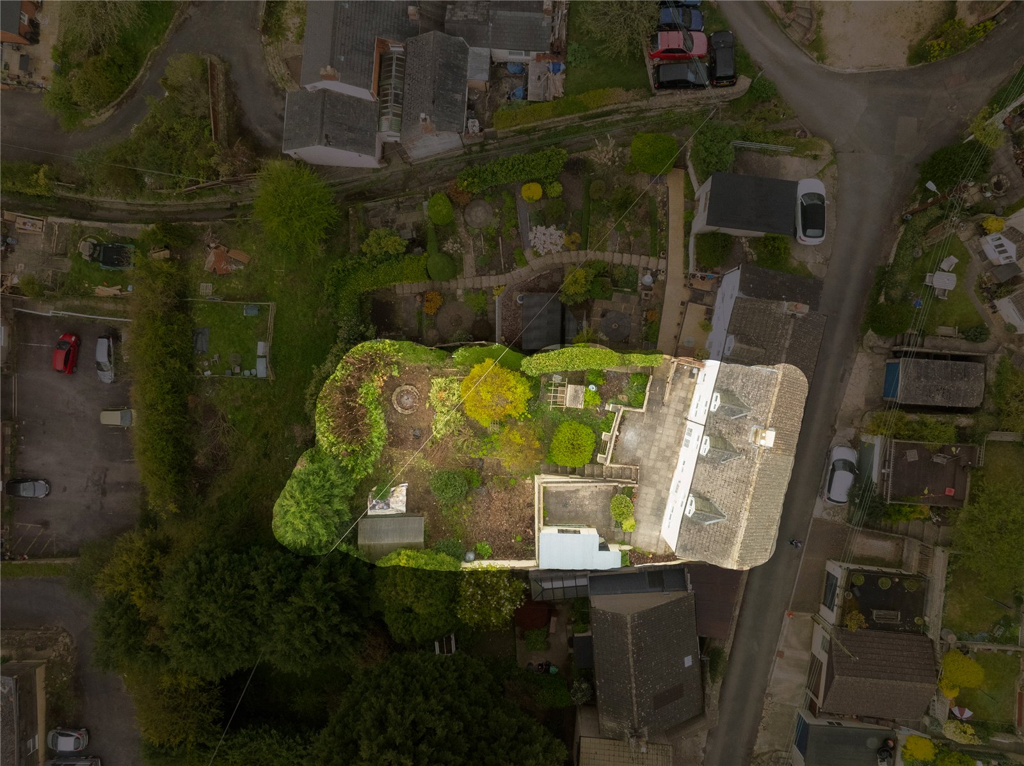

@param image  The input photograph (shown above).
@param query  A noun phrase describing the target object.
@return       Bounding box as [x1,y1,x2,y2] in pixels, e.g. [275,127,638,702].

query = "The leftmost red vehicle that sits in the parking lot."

[51,332,85,376]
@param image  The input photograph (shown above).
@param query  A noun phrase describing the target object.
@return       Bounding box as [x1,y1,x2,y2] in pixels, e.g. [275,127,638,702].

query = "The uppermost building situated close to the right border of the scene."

[961,215,1024,276]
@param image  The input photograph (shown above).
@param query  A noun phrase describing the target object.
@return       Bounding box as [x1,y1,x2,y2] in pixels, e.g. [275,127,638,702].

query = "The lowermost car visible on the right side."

[820,445,858,504]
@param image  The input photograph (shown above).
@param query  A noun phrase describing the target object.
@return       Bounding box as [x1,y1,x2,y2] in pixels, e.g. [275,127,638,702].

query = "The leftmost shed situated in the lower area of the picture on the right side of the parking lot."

[356,510,428,562]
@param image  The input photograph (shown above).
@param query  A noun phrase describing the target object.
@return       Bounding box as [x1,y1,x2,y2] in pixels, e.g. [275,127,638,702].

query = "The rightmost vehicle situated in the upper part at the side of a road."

[795,180,827,245]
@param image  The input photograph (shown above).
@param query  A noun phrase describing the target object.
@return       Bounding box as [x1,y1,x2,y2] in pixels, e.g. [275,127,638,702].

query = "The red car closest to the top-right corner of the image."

[649,32,707,63]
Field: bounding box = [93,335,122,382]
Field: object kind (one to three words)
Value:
car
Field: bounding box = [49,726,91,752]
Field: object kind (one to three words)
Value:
car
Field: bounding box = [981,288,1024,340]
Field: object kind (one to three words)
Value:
house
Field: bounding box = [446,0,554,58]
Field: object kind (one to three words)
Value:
building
